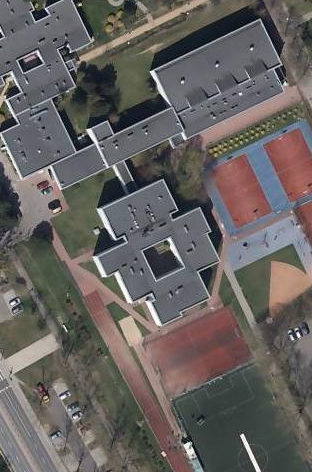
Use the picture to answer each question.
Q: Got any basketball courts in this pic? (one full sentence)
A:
Yes, I can see a basketball court in this picture.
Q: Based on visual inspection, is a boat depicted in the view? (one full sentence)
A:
No, I find no boat anywhere in the image.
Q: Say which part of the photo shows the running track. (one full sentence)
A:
The running track is in the bottom part of the image.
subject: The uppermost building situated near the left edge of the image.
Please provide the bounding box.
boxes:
[0,0,97,115]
